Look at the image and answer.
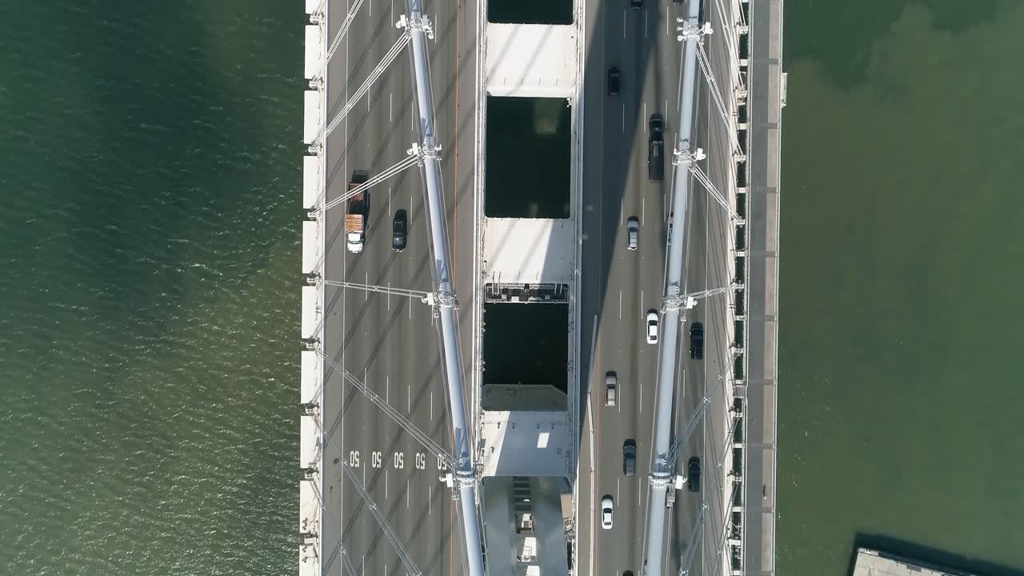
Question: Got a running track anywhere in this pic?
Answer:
No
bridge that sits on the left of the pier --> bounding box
[300,0,791,576]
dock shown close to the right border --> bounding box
[848,543,984,576]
